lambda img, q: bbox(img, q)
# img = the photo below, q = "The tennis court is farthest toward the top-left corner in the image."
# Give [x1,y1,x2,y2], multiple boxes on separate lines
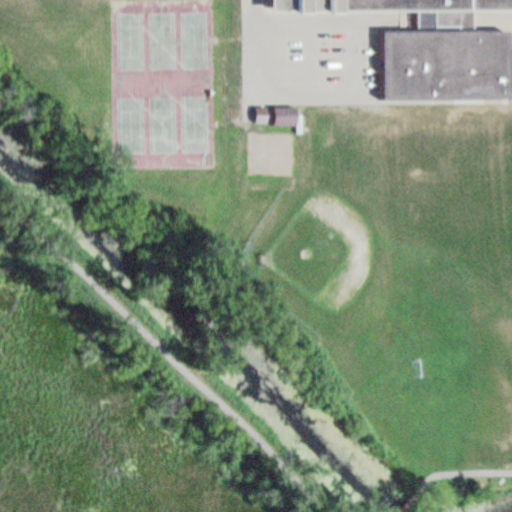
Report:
[116,13,146,71]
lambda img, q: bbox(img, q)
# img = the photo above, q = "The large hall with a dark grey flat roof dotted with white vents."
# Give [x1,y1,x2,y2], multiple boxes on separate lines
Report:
[385,32,511,101]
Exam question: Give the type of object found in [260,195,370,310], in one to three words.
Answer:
baseball field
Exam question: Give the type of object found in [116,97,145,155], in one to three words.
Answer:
tennis court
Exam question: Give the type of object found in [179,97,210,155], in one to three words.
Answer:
tennis court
